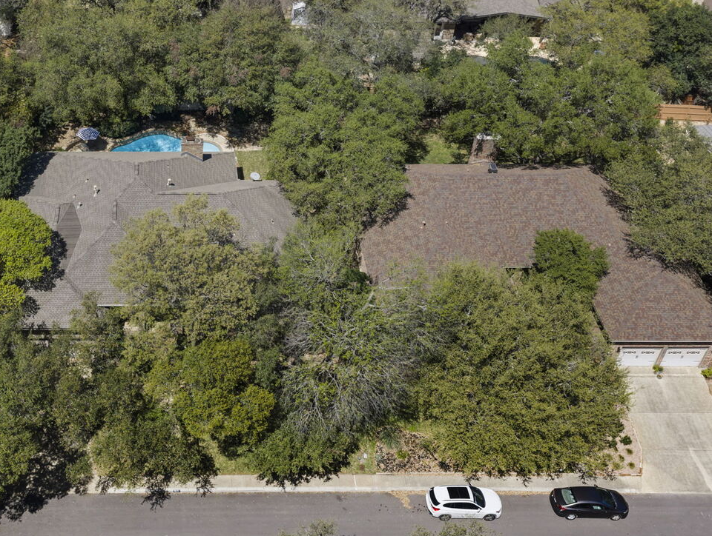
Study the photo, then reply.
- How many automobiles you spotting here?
two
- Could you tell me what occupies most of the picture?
trees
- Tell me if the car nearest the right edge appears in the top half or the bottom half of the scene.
bottom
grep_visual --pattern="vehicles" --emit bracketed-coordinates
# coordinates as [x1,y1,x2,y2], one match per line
[549,482,632,521]
[426,482,504,521]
